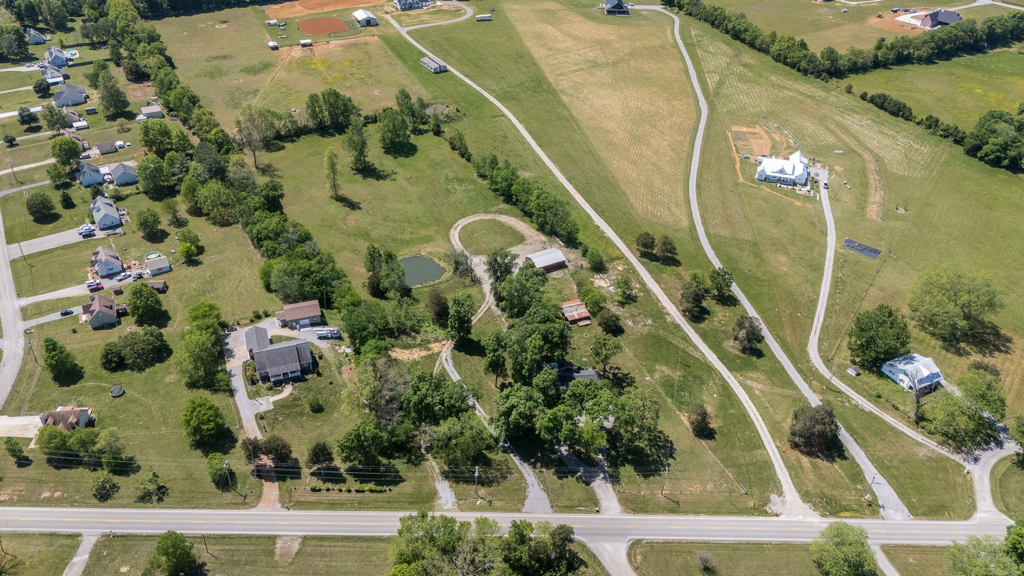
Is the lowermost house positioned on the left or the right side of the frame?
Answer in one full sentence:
The lowermost house appears in the left half of the scene.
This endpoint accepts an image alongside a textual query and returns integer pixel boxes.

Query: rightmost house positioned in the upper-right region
[920,12,959,29]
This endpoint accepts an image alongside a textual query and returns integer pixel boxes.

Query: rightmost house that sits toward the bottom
[882,353,943,393]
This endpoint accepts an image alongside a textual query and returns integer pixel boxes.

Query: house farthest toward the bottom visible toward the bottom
[38,395,103,433]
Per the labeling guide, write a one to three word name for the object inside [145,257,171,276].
building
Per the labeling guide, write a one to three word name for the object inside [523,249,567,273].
barn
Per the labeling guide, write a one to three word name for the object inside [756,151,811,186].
house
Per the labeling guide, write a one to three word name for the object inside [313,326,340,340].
vehicle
